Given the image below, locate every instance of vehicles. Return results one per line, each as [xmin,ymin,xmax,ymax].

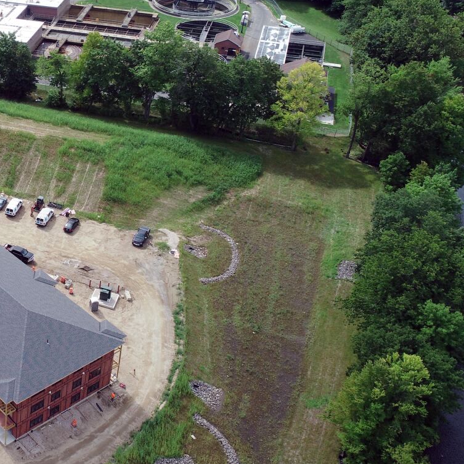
[3,239,34,260]
[35,207,57,226]
[132,225,153,246]
[29,200,47,214]
[63,216,81,232]
[4,198,25,215]
[0,195,10,210]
